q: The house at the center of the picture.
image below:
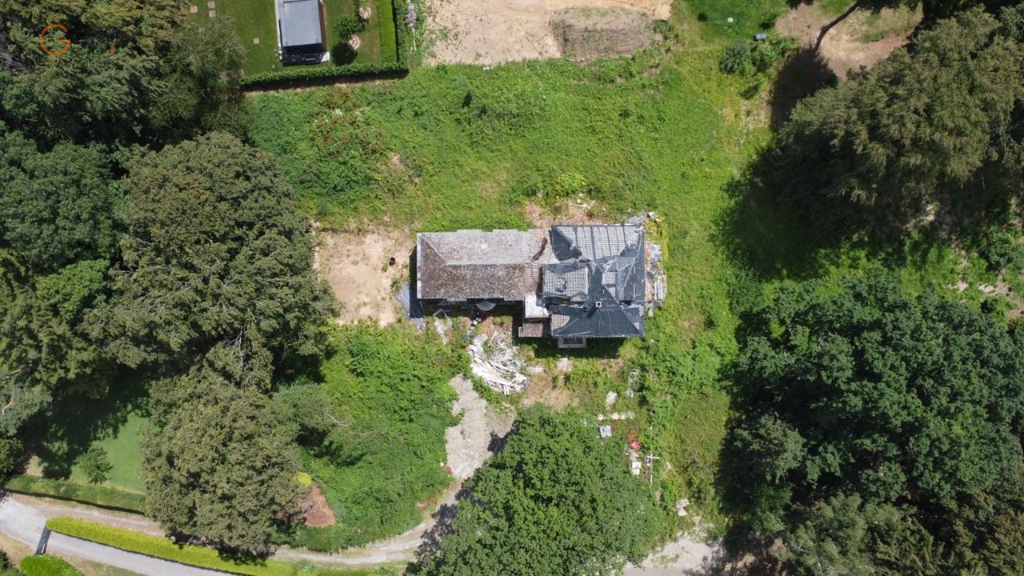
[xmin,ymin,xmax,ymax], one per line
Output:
[403,223,645,348]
